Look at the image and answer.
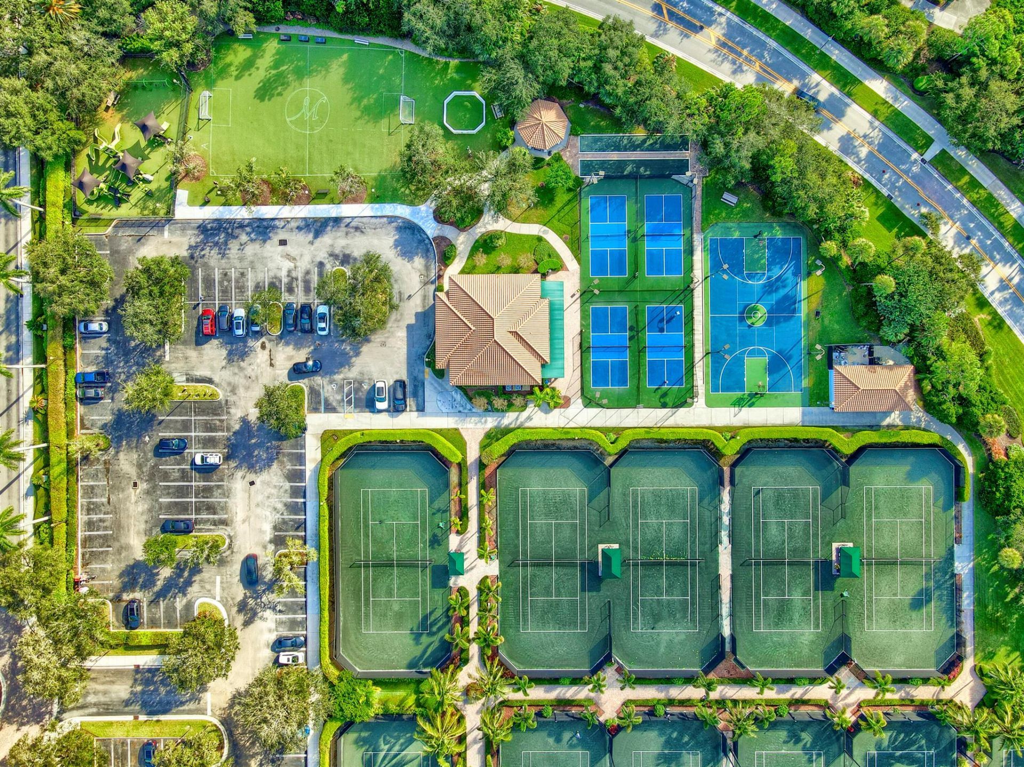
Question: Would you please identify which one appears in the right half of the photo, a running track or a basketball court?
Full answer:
The feature located in the right half of the photo is a basketball court.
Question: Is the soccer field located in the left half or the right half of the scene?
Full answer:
The soccer field is on the left side of the image.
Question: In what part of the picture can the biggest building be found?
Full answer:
The biggest building sits in the center section of the image.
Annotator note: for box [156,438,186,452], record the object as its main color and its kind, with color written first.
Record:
blue car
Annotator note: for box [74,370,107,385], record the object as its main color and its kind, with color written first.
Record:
blue vehicle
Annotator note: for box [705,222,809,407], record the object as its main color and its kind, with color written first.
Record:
blue basketball court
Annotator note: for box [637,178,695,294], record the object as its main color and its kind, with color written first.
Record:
blue sports court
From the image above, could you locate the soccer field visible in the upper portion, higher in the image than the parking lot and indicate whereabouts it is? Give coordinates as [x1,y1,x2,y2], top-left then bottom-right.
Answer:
[200,42,404,175]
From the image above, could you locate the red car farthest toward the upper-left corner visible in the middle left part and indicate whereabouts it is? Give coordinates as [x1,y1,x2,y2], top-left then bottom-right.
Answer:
[198,309,213,335]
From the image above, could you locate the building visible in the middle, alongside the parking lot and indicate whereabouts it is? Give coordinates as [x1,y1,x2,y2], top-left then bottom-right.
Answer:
[435,273,564,386]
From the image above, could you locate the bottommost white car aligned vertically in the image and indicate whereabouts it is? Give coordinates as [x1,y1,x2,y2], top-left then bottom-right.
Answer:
[373,380,387,411]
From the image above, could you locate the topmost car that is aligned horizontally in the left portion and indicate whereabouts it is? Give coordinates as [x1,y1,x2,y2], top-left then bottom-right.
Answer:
[77,319,106,333]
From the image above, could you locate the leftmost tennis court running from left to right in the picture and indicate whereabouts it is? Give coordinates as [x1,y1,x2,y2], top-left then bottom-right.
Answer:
[338,721,450,767]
